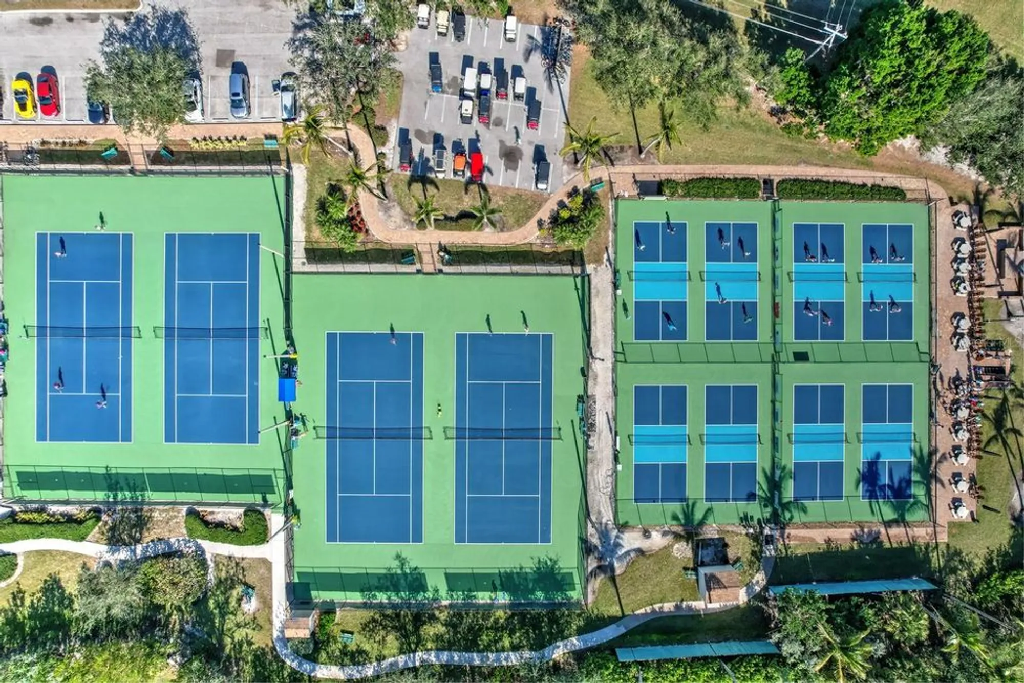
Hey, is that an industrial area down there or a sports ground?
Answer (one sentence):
It's a sports ground.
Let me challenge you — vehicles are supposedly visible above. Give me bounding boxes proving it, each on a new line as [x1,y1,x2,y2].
[38,75,62,116]
[453,153,466,178]
[471,154,483,182]
[434,151,447,179]
[496,74,508,101]
[514,77,526,104]
[480,73,491,98]
[478,97,490,126]
[228,74,250,117]
[461,100,473,127]
[527,101,540,131]
[185,80,205,122]
[14,78,38,119]
[430,67,443,94]
[463,68,476,100]
[453,13,466,43]
[399,145,413,172]
[536,161,549,191]
[86,85,109,125]
[505,16,516,44]
[417,3,431,31]
[437,10,450,38]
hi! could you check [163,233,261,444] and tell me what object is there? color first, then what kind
blue tennis court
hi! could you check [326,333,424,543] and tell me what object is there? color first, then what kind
blue tennis court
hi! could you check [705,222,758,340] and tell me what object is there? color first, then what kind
blue sports court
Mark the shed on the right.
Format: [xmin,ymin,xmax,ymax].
[700,564,741,604]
